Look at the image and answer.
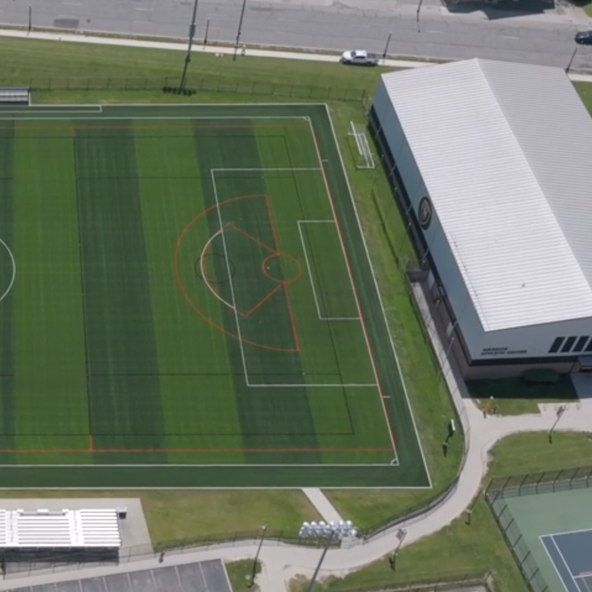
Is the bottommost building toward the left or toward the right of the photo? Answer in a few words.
right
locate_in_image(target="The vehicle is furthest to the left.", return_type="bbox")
[341,47,379,65]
